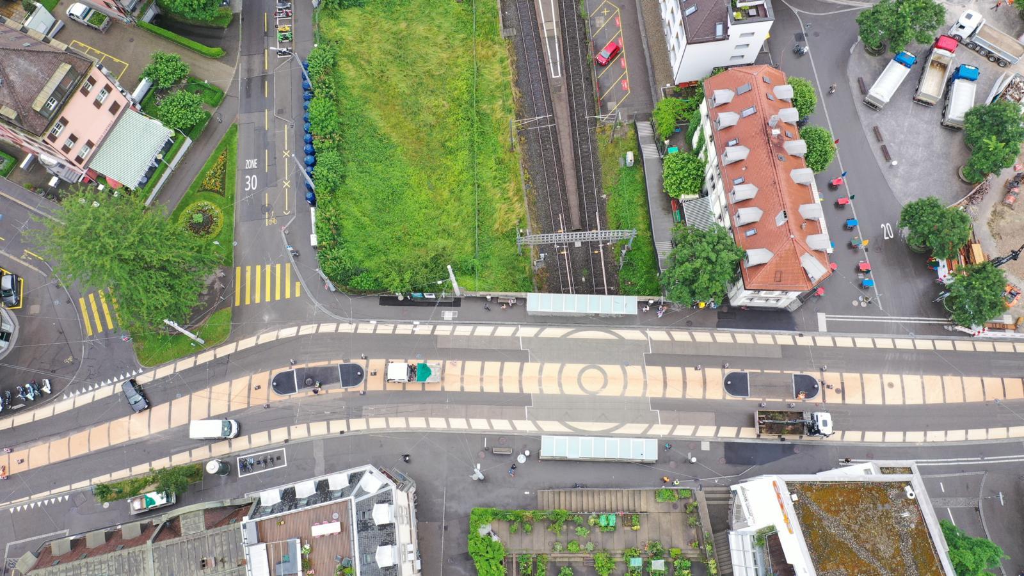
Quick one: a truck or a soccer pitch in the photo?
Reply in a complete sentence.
It is a truck that can be seen here.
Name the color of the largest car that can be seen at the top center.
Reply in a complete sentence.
The largest car that can be seen at the top center looks red in the image.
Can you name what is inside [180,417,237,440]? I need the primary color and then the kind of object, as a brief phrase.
white vehicle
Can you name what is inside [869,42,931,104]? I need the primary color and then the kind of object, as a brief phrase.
white truck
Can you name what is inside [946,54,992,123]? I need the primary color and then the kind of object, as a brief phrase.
white truck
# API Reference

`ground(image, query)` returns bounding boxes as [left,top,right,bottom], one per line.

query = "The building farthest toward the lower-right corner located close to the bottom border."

[724,458,957,576]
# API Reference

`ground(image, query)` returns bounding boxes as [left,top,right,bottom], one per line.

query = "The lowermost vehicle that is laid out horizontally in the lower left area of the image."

[121,489,176,520]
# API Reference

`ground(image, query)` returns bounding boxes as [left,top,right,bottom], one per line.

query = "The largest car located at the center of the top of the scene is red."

[596,38,623,64]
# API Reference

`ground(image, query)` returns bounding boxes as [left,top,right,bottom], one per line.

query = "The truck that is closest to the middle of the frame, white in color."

[382,357,439,383]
